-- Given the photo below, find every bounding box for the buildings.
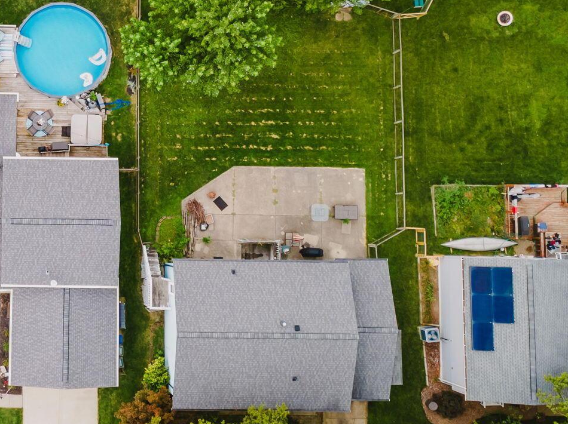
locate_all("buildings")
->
[0,92,121,389]
[440,251,568,408]
[164,257,403,413]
